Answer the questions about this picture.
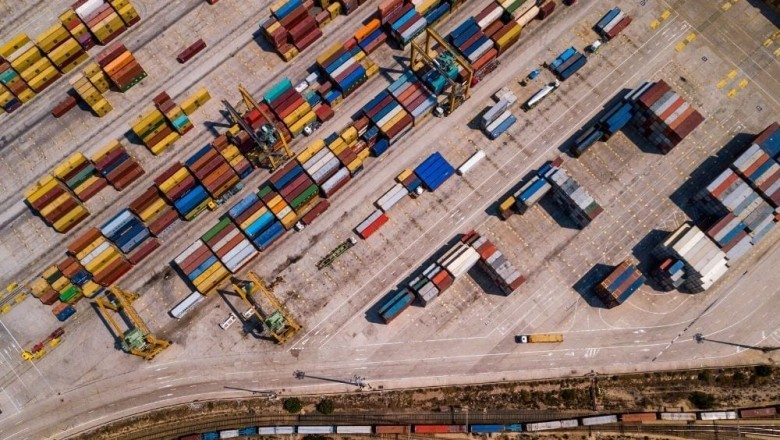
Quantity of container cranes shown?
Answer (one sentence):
In total, there are 4 container cranes in the scene.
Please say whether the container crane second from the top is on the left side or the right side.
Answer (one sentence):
The container crane second from the top is on the left side of the image.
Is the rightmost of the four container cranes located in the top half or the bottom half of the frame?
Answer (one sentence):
It is in the top half that the rightmost of the four container cranes appears.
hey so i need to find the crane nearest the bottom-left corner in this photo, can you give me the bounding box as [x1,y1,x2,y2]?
[88,280,173,362]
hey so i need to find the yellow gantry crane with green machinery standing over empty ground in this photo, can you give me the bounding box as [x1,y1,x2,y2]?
[229,265,303,346]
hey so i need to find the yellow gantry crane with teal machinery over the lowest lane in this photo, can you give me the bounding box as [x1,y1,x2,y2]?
[408,24,480,113]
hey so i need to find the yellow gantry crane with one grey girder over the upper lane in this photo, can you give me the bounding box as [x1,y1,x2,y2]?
[220,83,296,172]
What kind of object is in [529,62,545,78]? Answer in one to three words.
vehicle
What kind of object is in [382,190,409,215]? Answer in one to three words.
shipping container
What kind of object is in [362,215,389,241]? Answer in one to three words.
shipping container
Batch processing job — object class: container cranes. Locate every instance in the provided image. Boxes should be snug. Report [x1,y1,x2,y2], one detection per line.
[229,265,303,346]
[408,24,480,113]
[220,83,296,172]
[88,280,173,362]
